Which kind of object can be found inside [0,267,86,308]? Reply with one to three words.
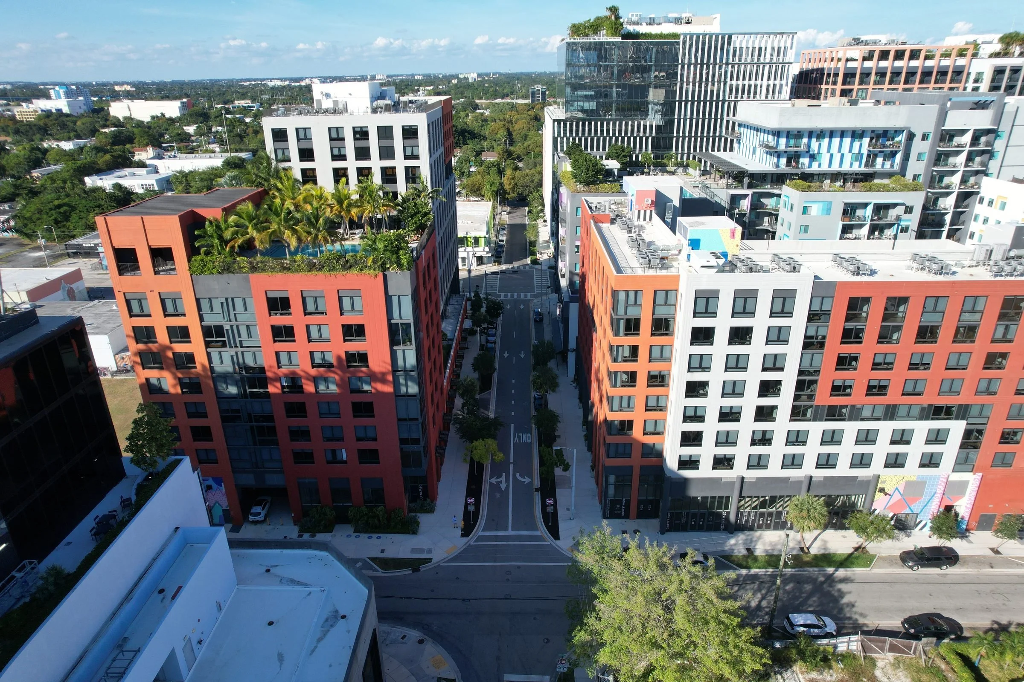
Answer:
building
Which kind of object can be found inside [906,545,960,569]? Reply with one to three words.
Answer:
car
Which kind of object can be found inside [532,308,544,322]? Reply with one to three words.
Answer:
vehicle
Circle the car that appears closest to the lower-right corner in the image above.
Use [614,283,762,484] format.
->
[906,614,966,638]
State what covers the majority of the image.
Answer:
buildings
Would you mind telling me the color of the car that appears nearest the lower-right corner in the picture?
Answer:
black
